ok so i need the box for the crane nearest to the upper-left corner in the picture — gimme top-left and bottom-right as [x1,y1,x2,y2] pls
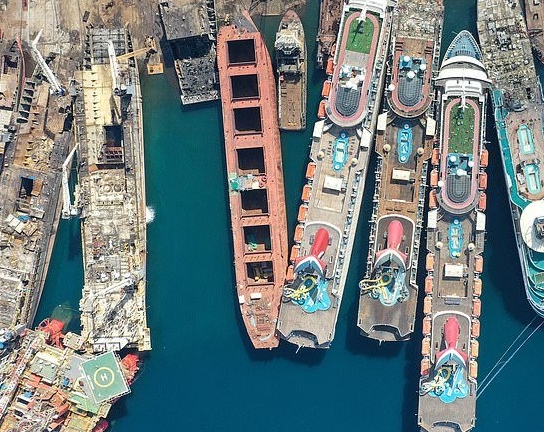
[31,34,71,100]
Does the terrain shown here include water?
Yes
